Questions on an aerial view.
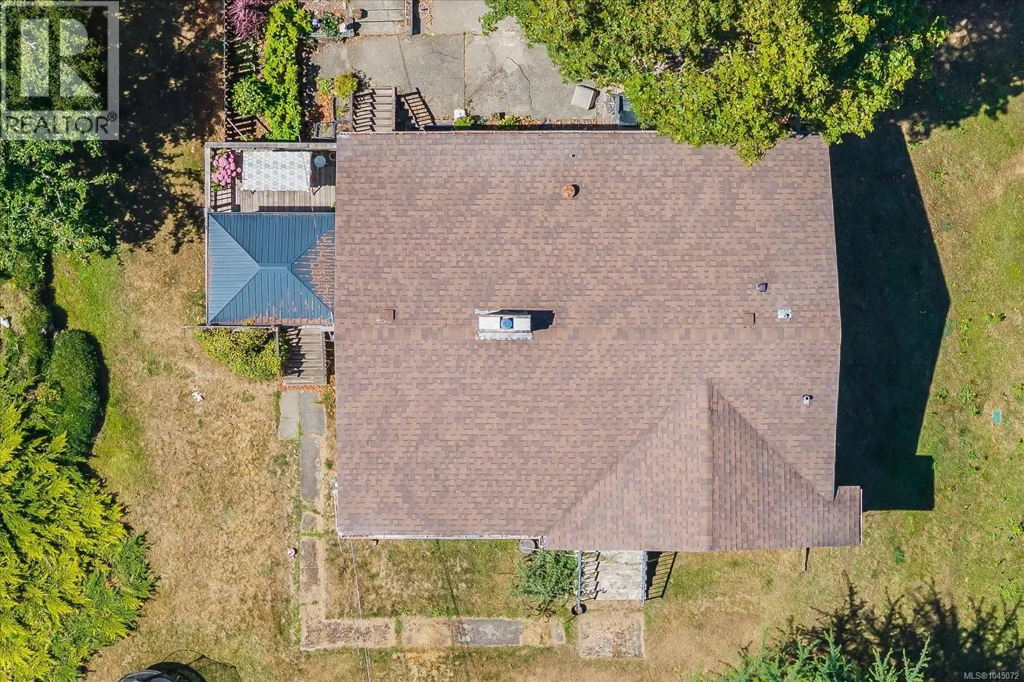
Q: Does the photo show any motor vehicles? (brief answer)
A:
No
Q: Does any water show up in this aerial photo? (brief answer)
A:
No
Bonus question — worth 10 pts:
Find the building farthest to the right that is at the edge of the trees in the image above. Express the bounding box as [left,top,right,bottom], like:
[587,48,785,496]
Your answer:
[331,128,866,553]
